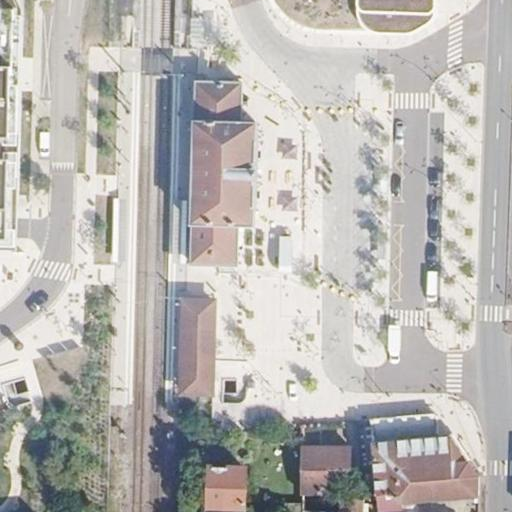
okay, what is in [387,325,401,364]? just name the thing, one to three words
vehicle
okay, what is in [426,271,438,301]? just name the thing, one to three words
vehicle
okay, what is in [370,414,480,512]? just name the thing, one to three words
building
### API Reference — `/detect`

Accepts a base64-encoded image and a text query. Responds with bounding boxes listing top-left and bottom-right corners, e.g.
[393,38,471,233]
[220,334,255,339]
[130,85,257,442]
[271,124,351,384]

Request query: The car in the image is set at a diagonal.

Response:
[26,289,47,308]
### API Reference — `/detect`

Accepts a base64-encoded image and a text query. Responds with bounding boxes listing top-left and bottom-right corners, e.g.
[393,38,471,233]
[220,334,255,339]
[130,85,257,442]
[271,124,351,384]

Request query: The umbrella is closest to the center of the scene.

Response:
[284,199,296,212]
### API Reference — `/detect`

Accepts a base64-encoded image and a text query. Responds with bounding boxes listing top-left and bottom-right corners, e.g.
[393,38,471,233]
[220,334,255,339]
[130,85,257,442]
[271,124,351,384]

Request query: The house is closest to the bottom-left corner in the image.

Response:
[204,463,247,512]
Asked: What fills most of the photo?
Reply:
paved ground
